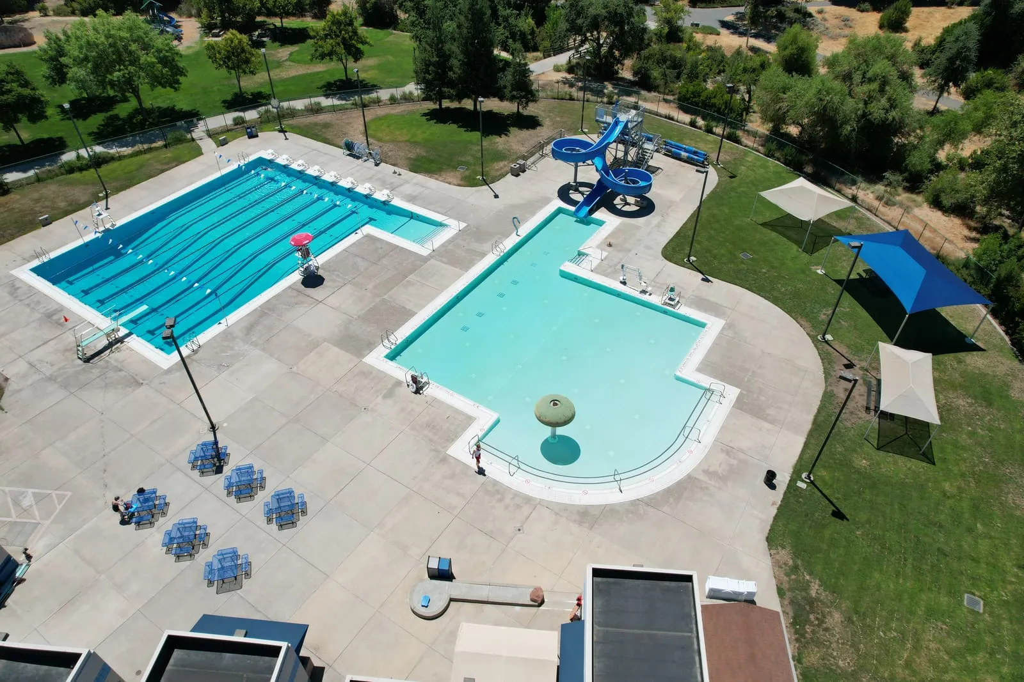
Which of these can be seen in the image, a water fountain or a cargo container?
water fountain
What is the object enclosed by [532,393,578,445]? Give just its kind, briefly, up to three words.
fountain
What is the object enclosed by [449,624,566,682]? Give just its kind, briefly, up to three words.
building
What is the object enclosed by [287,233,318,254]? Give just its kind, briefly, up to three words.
umbrella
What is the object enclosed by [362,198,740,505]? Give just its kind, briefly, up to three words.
swimming pool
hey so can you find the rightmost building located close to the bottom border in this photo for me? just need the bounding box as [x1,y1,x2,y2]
[559,560,712,682]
